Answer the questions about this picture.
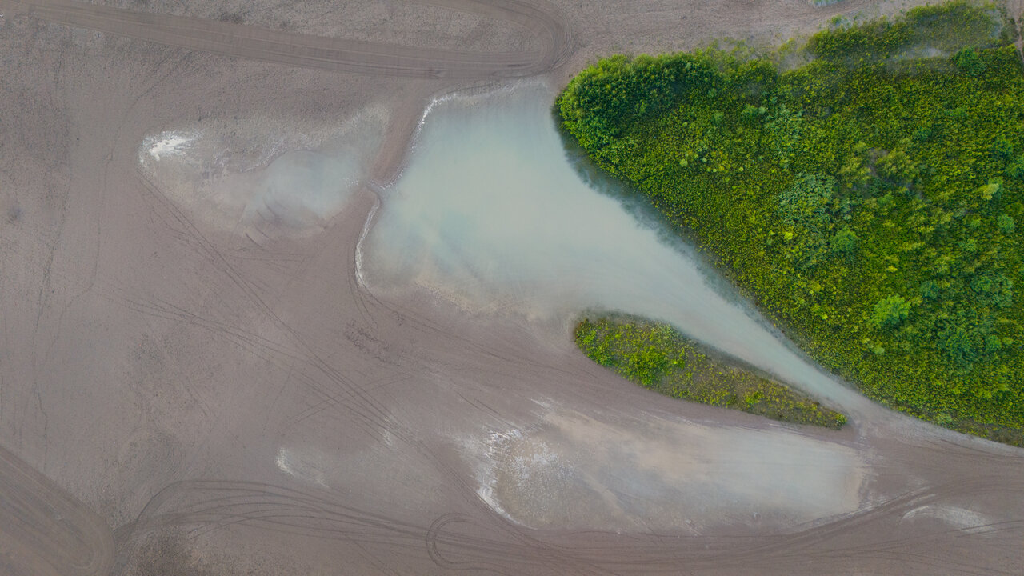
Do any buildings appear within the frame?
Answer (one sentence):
No, I can see no building in this picture.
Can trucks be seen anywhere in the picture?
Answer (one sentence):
No, there's no truck here.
